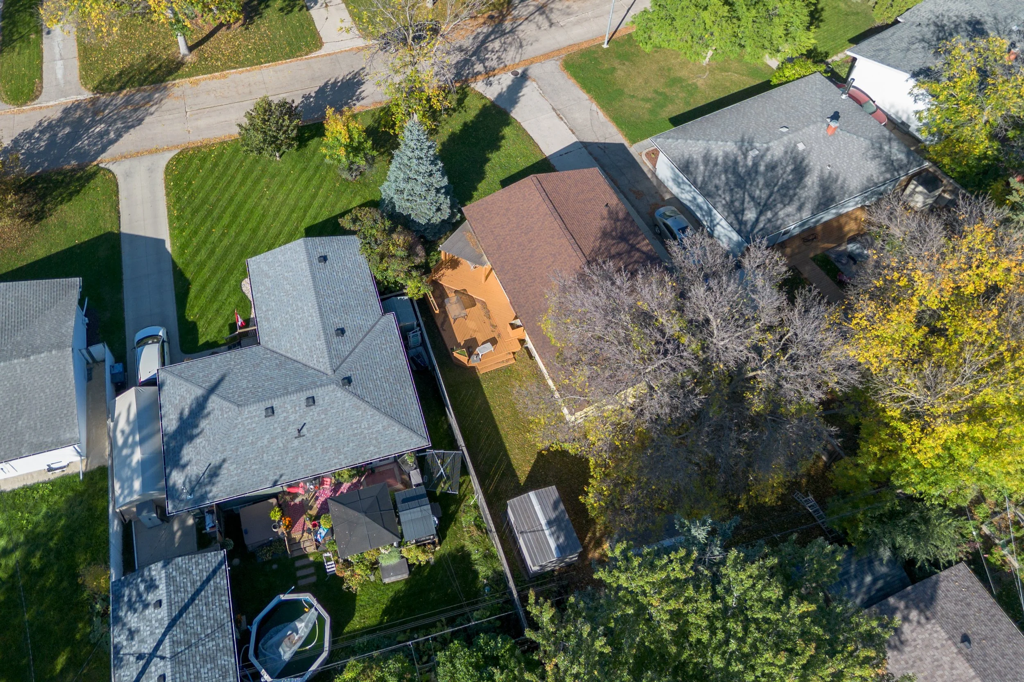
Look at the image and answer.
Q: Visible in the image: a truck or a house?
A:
house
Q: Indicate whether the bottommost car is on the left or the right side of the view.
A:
left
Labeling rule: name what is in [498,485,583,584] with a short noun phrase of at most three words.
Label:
shed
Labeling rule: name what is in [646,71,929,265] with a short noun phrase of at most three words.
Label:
house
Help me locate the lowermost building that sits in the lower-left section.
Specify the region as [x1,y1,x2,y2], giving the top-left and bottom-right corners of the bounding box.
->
[103,549,239,682]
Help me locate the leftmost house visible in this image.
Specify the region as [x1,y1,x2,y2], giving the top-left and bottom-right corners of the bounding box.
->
[0,278,114,483]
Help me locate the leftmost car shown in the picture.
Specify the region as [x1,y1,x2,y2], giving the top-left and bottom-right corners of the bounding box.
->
[131,327,174,386]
